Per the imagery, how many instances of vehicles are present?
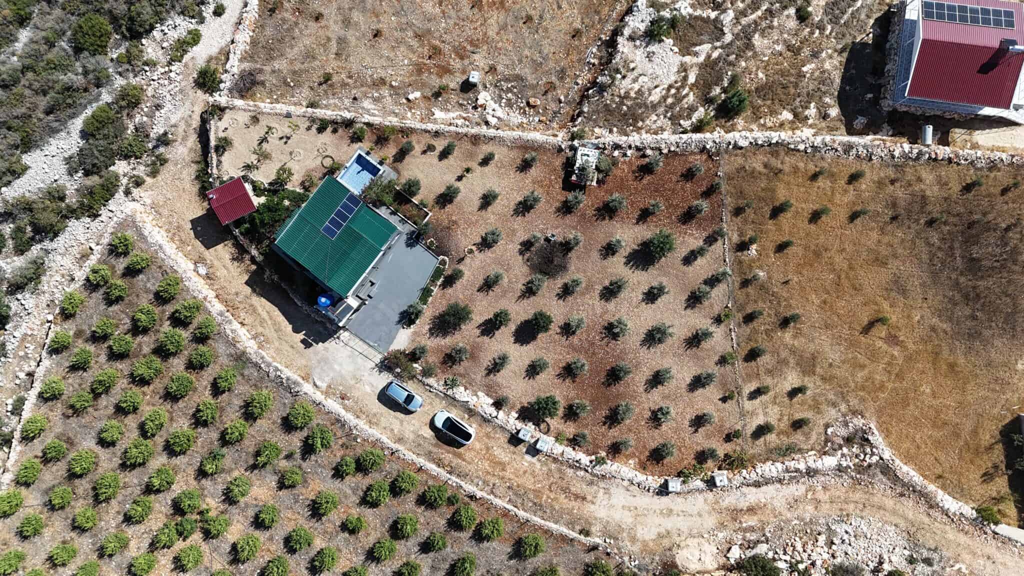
2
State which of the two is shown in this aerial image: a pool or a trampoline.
pool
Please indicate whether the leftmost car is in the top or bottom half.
bottom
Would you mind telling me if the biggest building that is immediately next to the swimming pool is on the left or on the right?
left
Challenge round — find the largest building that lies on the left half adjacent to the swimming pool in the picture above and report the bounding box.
[272,174,405,305]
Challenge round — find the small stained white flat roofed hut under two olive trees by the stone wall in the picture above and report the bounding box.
[569,142,605,188]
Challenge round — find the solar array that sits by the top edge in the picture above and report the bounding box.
[923,1,1015,28]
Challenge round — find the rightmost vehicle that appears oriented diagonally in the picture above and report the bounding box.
[433,411,475,447]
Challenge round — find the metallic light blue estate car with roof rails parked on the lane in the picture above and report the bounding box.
[383,380,424,412]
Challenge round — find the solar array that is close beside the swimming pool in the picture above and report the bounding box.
[322,192,362,239]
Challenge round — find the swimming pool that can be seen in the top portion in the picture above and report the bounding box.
[336,150,384,197]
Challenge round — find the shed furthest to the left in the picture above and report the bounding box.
[206,177,259,225]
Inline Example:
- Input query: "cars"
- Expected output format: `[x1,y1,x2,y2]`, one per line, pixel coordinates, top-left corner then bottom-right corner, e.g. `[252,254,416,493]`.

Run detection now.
[433,411,475,447]
[383,380,424,412]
